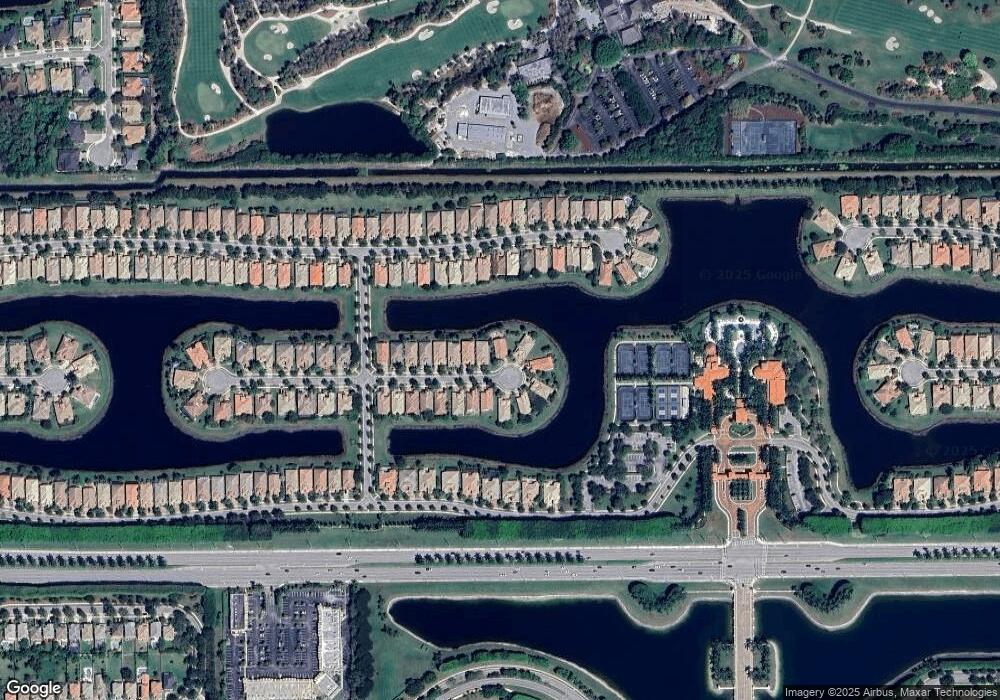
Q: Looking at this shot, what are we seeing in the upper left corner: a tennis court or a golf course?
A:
golf course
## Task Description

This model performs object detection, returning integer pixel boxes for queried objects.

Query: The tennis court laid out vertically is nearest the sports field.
[783,120,797,154]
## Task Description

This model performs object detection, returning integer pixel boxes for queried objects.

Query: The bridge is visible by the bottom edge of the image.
[717,581,769,700]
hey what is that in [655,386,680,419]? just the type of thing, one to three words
sports court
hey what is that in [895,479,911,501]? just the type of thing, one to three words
house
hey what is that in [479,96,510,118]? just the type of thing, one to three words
shed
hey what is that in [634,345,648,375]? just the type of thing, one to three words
tennis court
